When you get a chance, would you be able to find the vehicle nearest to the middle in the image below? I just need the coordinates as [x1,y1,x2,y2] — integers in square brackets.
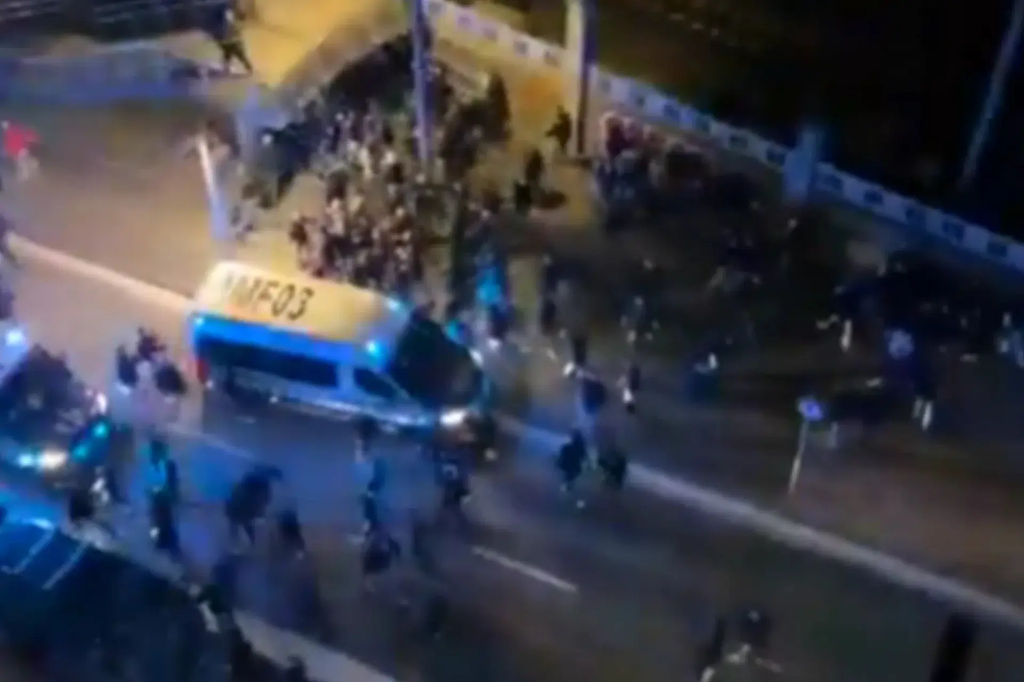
[197,254,492,451]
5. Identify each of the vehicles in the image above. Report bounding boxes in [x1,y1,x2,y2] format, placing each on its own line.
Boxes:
[0,512,222,682]
[0,329,121,490]
[197,254,492,451]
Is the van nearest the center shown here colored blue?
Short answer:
Yes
